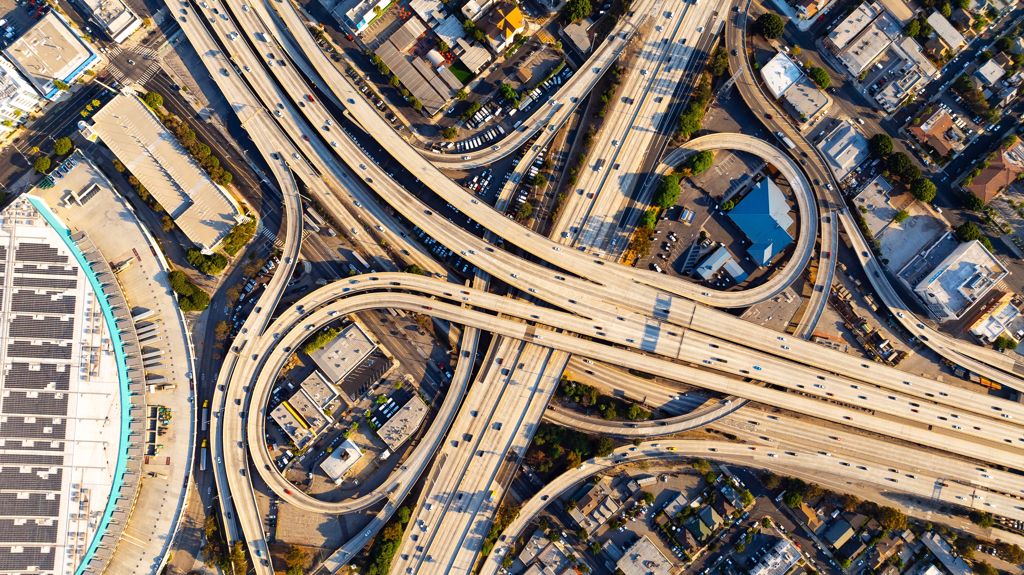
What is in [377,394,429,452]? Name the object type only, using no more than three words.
building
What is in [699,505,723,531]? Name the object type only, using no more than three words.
house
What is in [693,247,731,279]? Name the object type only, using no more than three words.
shed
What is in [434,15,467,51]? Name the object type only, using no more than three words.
building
